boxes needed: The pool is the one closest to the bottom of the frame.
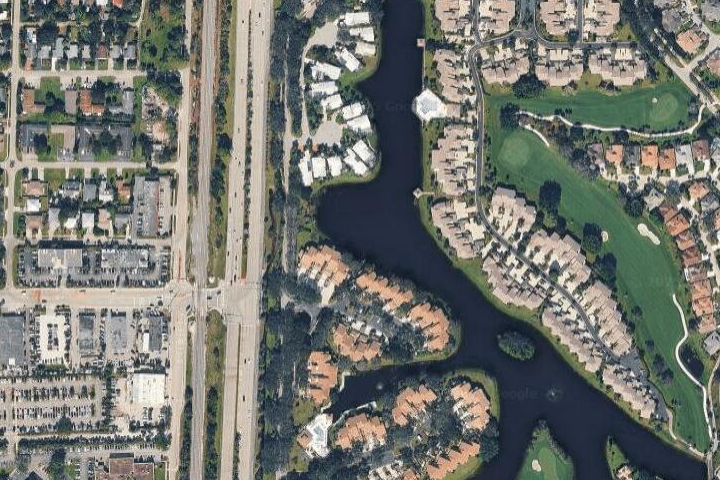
[305,414,332,459]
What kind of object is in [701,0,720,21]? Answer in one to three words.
house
